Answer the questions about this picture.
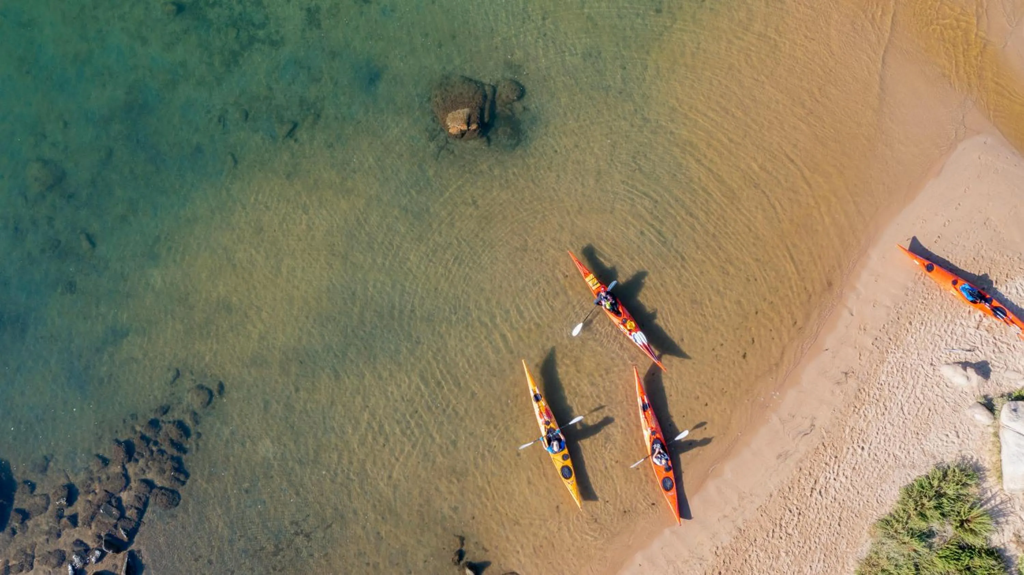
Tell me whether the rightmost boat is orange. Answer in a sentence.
Yes, orange is the color of the rightmost boat.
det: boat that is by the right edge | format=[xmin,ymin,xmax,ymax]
[892,244,1024,331]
